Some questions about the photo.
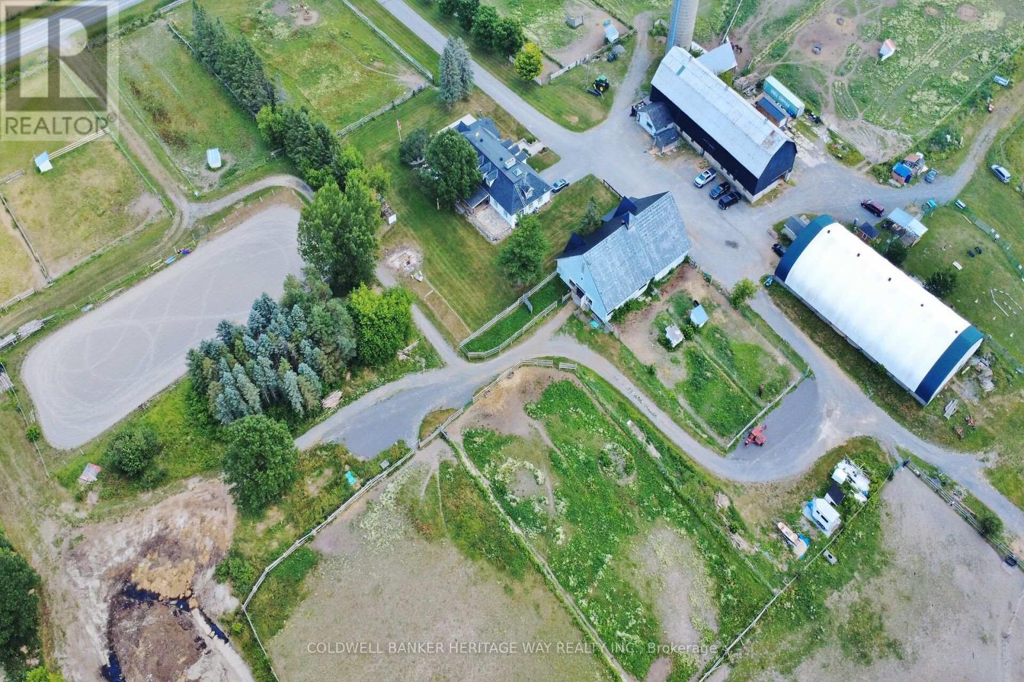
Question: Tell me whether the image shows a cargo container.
Yes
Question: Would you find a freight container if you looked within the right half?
Yes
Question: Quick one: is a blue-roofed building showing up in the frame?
Yes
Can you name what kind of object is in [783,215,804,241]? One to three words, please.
shed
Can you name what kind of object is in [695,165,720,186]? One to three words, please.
truck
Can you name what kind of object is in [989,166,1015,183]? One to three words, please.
vehicle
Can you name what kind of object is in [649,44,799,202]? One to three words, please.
barn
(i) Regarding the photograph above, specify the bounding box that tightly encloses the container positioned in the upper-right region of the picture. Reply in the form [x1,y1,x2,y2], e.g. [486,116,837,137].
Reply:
[763,74,805,117]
